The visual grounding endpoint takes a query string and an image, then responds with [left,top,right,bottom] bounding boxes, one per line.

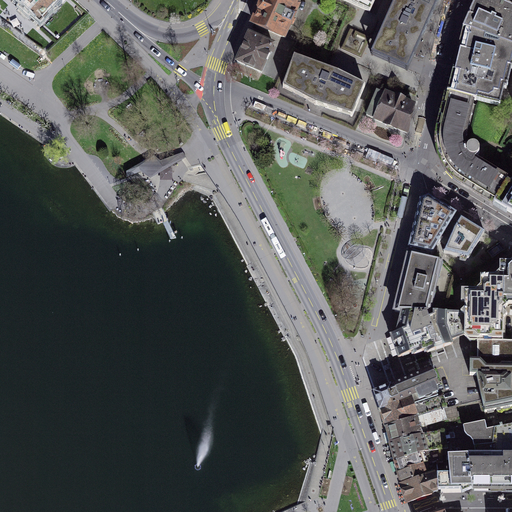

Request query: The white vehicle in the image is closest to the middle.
[258,216,286,260]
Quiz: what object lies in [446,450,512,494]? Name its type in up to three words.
building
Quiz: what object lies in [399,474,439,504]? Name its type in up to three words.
house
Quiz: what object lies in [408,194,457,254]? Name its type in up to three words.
building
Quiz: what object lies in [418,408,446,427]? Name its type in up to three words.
shed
